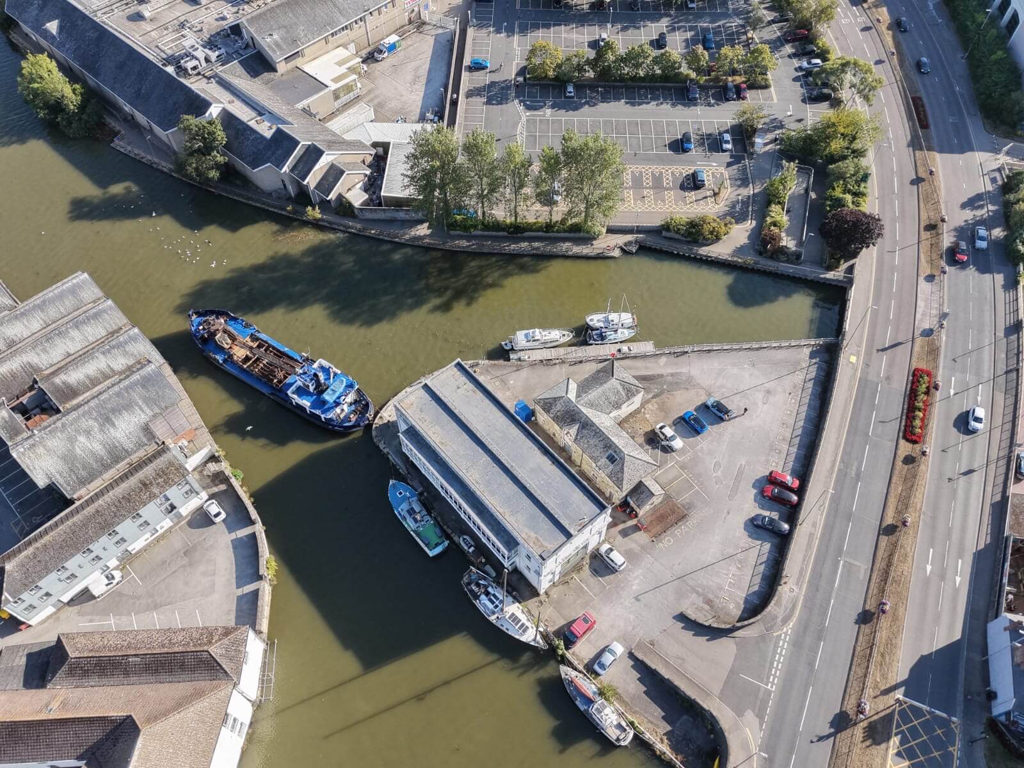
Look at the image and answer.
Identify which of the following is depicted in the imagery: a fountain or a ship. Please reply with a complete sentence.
The image shows a ship.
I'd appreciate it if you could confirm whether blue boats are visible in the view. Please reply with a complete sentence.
Yes, this view includes a blue boat.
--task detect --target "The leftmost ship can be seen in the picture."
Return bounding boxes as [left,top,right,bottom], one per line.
[188,309,381,447]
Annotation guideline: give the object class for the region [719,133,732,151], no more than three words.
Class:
vehicle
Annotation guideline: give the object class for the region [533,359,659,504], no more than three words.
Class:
house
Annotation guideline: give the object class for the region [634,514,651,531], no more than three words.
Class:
work vehicle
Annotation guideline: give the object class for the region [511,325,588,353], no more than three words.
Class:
boat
